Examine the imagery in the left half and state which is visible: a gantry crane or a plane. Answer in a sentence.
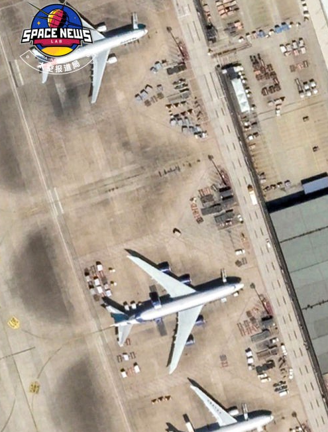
What appears in the left half is a plane.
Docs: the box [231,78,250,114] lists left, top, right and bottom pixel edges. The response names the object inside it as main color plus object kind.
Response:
white tent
